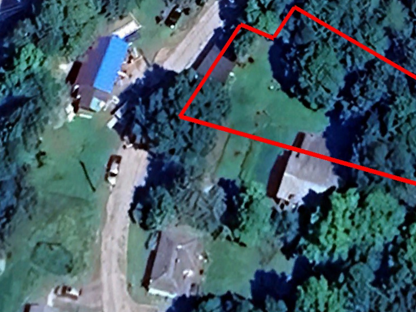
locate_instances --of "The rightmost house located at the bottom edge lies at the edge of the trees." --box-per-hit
[144,229,205,301]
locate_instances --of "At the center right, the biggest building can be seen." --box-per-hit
[278,130,354,214]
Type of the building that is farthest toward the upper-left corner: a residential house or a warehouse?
residential house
